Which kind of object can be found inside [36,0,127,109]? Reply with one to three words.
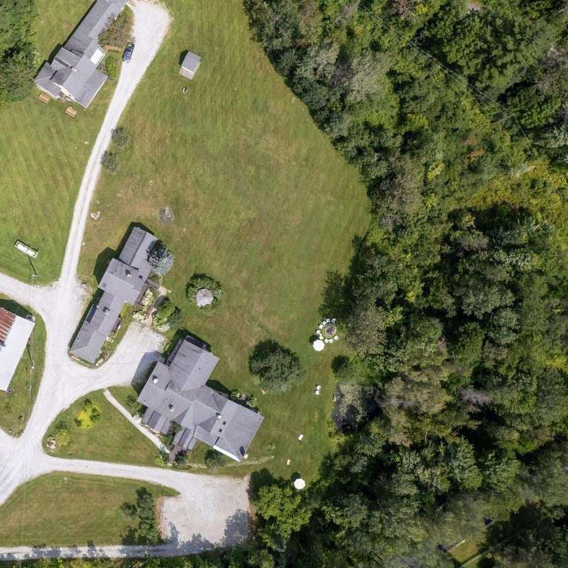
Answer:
house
